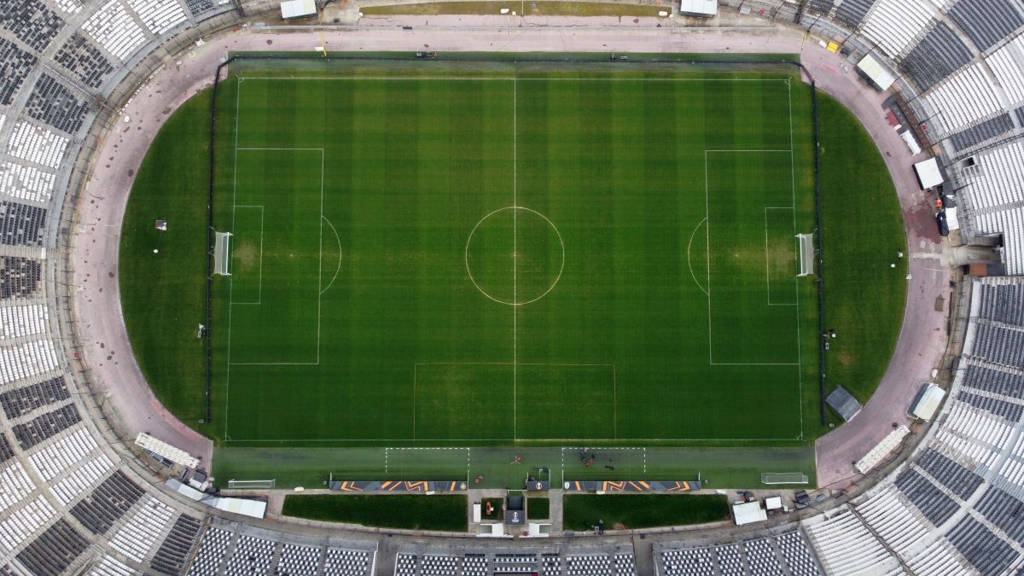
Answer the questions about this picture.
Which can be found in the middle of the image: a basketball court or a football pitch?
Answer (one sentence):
You can see a football pitch in the middle of the image.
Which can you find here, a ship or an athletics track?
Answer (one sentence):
Visible in the photo is an athletics track.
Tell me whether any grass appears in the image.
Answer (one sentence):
Yes, there's grass in this view.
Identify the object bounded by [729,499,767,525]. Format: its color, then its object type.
white tent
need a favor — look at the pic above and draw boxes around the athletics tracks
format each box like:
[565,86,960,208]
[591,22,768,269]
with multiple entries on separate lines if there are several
[74,16,952,490]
